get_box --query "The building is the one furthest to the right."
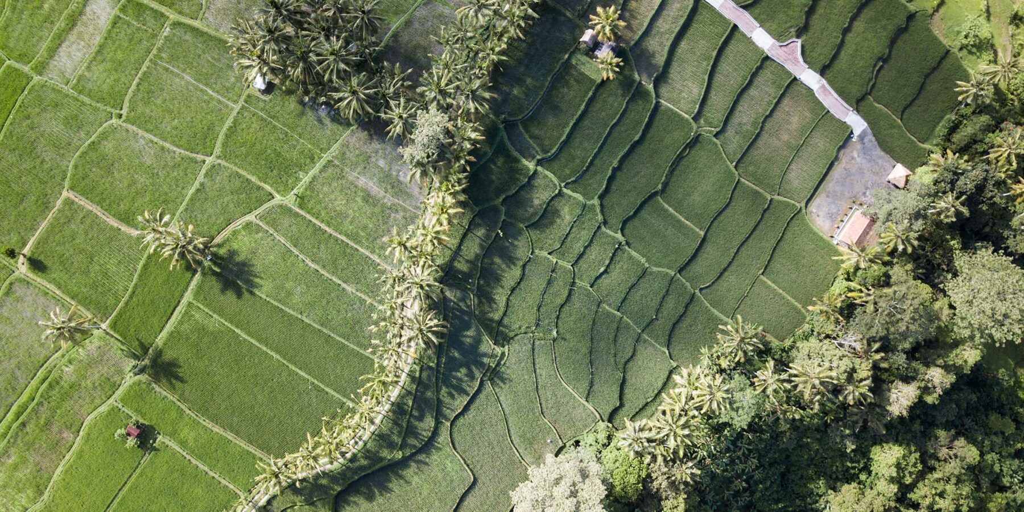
[882,161,911,189]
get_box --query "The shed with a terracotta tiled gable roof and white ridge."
[835,210,874,252]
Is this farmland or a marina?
farmland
